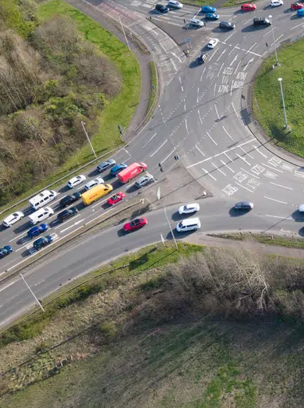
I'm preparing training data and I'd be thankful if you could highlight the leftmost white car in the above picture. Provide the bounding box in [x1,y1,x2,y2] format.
[2,211,26,228]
